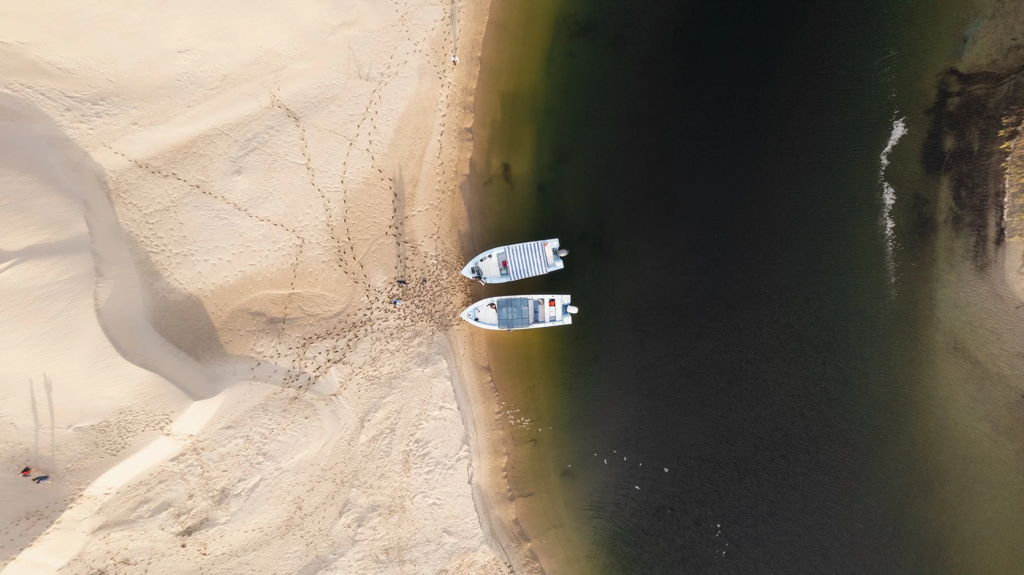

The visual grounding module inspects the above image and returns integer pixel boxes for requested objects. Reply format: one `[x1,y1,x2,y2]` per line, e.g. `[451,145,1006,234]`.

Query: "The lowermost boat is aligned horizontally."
[460,294,579,330]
